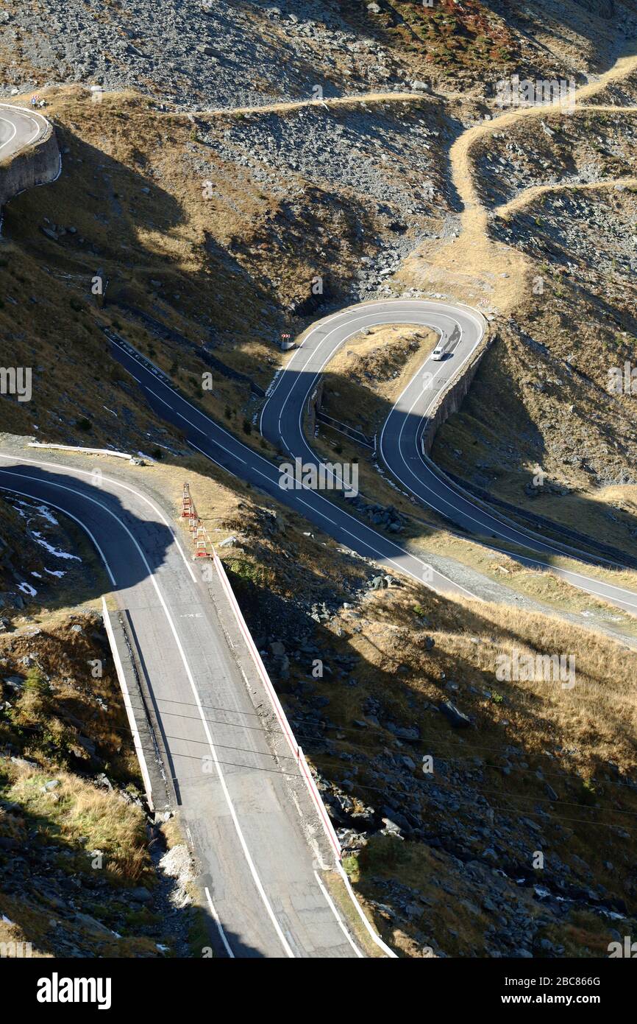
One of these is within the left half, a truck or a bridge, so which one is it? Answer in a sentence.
There is a bridge within the left half.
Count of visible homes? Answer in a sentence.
The photo contains no homes.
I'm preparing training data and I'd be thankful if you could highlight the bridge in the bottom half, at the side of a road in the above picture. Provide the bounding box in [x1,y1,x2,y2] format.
[98,577,340,844]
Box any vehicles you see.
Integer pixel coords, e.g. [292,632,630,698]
[429,348,446,363]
